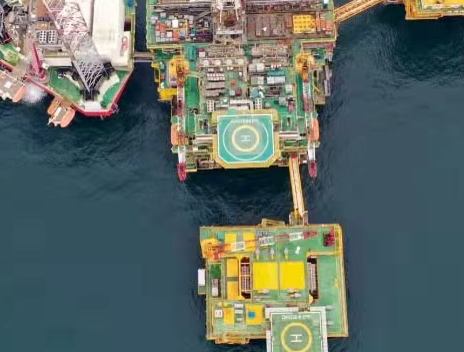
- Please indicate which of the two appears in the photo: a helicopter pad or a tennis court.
helicopter pad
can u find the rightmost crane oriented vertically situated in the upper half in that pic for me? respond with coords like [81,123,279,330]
[296,48,316,180]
